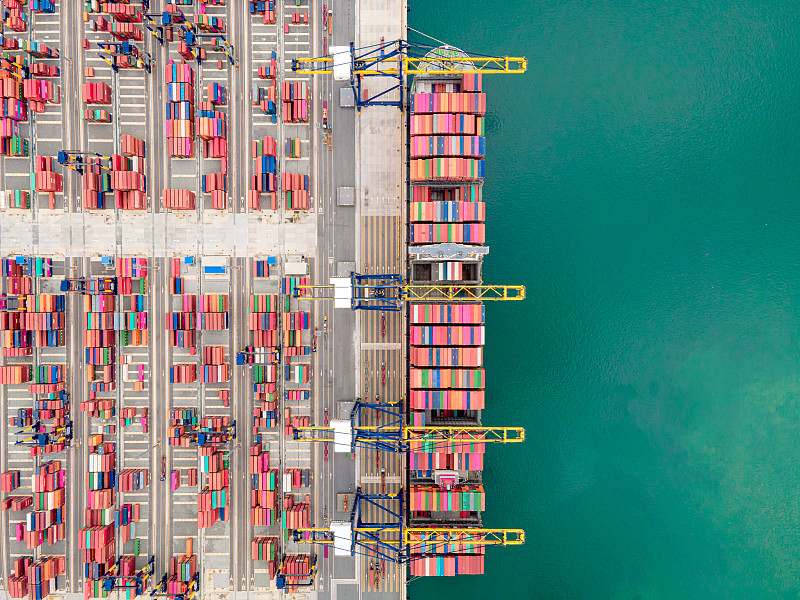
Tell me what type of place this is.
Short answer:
port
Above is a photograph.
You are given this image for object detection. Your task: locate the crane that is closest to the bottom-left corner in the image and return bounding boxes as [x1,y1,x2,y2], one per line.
[102,552,155,587]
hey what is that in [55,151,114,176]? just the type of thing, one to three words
crane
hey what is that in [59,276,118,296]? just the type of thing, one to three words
crane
